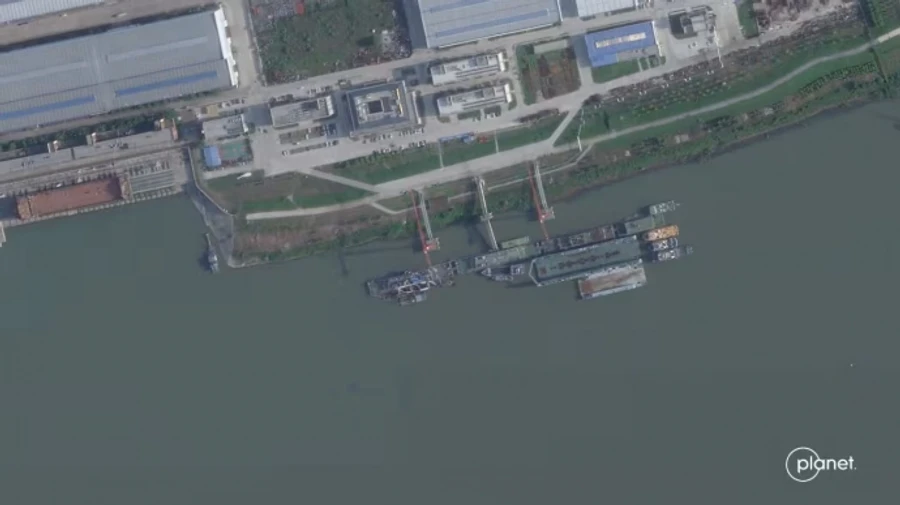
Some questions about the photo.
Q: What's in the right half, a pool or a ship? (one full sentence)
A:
What appears in the right half is a ship.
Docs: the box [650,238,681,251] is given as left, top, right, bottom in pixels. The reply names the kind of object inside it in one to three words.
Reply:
boat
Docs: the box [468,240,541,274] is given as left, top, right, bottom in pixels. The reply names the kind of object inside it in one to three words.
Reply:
ship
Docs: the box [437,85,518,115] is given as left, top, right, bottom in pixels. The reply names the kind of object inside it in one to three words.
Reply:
building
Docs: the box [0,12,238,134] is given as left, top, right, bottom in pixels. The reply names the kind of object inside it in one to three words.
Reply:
warehouse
